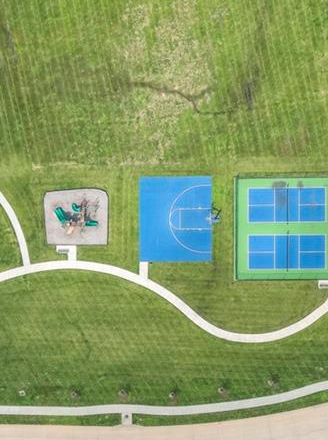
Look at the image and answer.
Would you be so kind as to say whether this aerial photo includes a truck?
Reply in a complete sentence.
No, there appears to be no truck in this shot.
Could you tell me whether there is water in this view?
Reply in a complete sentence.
No, there is no water in the image.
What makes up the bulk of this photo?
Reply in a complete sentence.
The scene is dominated by grass.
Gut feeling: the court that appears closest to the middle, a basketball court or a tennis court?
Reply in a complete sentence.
The court that appears closest to the middle is a basketball court.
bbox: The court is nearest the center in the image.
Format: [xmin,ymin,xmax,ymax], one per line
[139,177,212,261]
